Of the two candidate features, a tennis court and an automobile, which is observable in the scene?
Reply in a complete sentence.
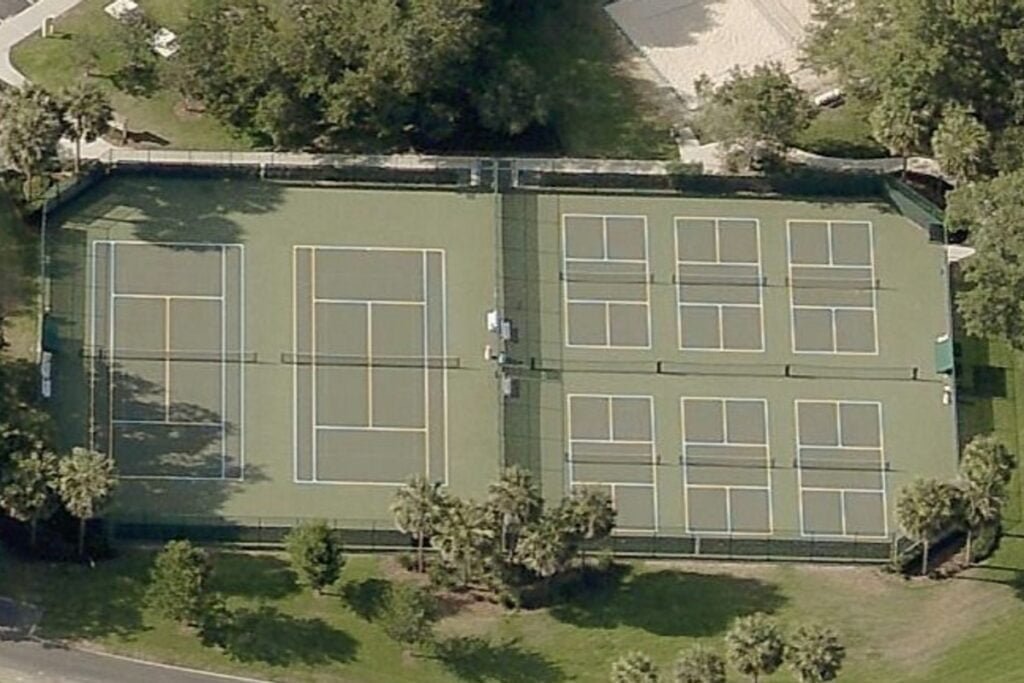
Of the two, only a tennis court appears.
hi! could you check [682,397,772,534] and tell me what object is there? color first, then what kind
gray sports court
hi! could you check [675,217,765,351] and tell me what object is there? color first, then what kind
gray sports court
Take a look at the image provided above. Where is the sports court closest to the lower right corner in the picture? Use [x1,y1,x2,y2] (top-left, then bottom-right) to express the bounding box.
[795,400,887,537]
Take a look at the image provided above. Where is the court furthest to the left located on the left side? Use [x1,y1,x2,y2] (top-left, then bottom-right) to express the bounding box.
[90,241,243,480]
